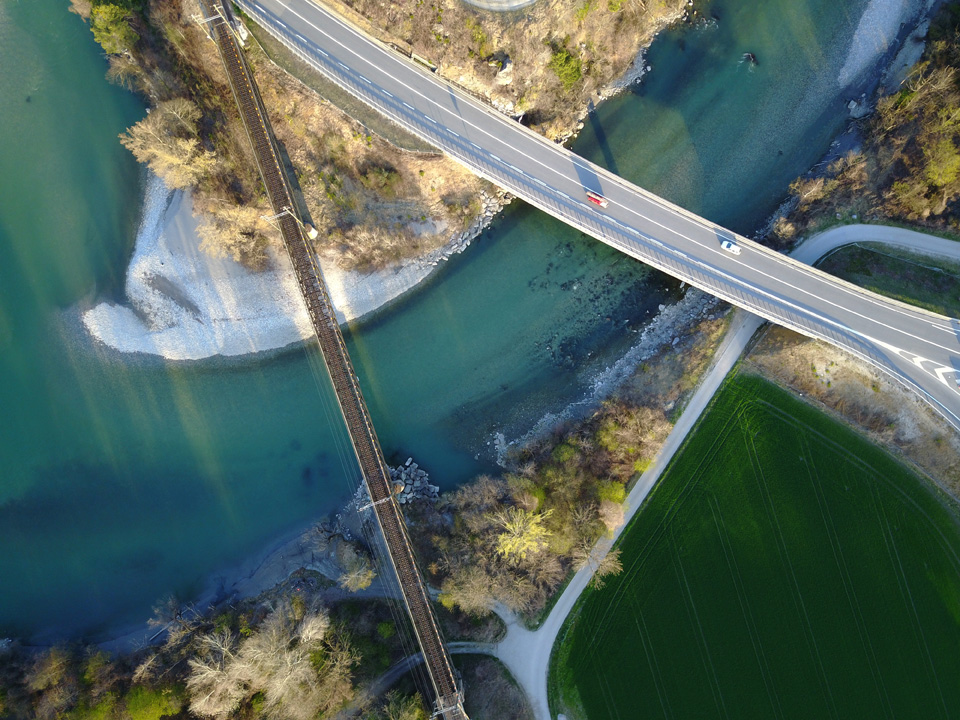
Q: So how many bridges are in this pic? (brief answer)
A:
two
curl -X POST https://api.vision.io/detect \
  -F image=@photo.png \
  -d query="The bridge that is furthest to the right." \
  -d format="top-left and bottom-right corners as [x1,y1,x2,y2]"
[472,104,806,335]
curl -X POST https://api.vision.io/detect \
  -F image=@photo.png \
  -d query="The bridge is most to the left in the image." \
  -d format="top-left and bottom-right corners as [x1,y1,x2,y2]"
[204,10,465,707]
